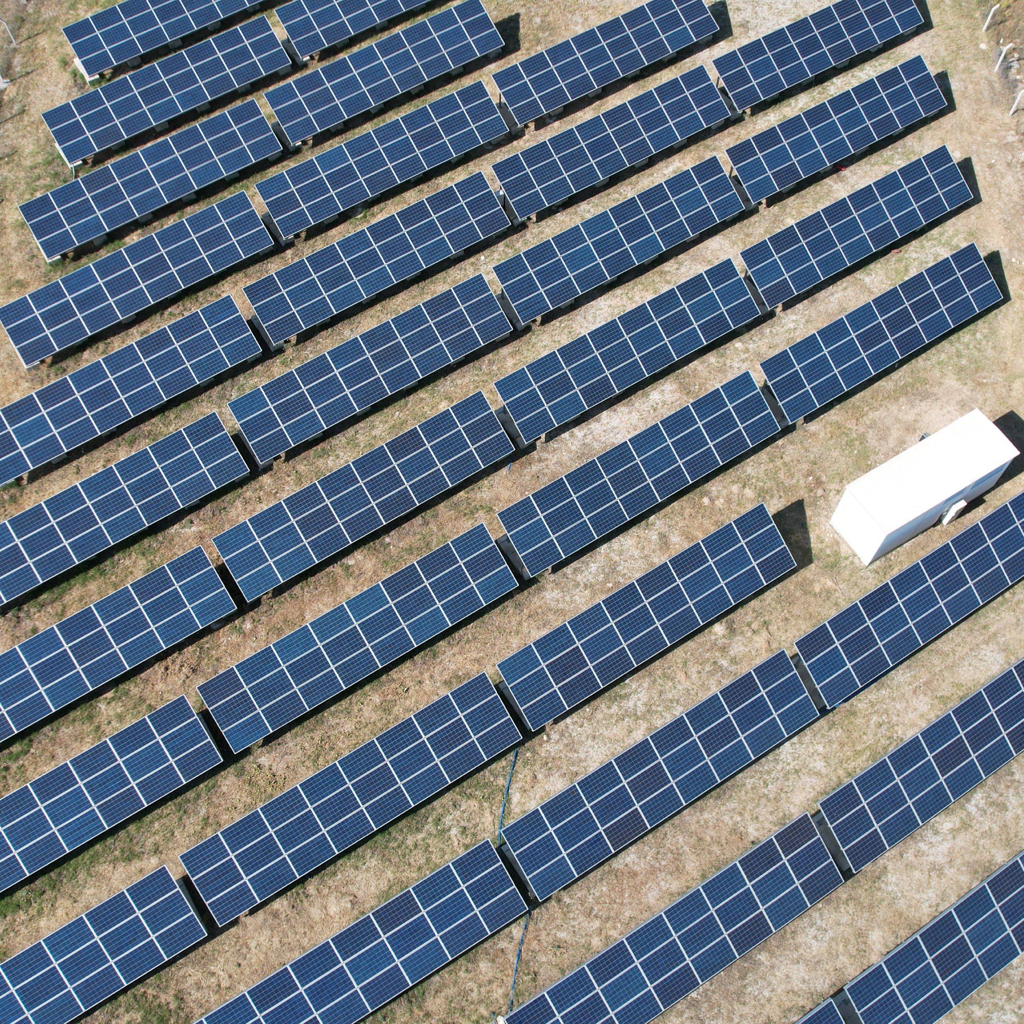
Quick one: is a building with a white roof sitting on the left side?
No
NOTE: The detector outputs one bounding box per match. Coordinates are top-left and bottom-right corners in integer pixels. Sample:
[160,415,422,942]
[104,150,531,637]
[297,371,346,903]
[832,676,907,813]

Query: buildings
[830,409,1020,566]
